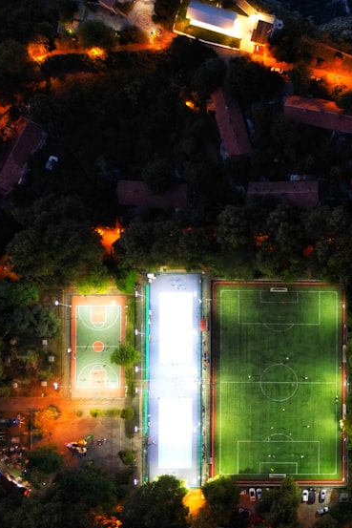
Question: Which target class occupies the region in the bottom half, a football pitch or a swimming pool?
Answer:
football pitch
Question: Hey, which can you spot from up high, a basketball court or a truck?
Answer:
basketball court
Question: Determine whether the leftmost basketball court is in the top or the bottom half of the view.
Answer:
bottom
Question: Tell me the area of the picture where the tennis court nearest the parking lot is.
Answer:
bottom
